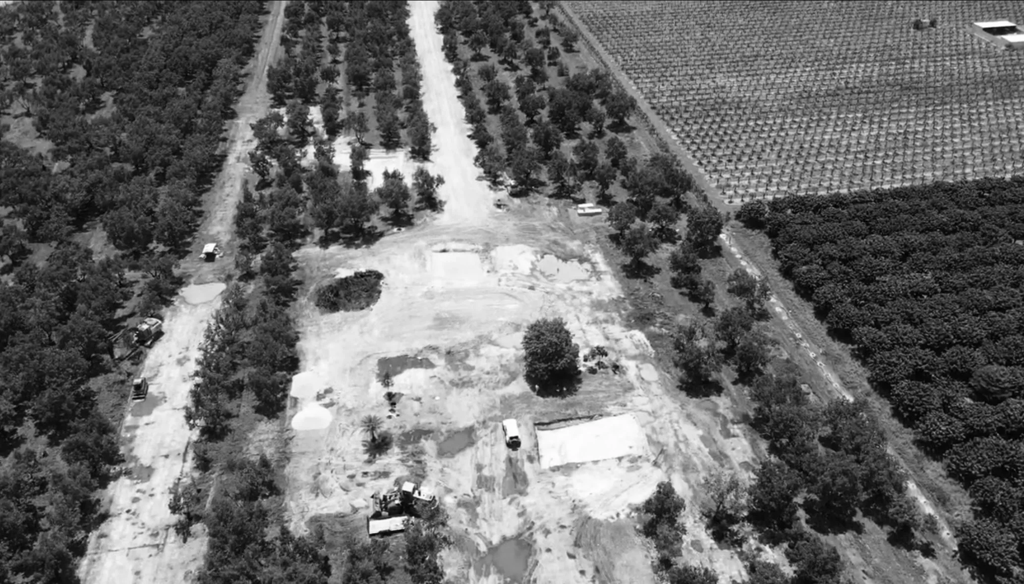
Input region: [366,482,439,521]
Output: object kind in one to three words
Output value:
work vehicle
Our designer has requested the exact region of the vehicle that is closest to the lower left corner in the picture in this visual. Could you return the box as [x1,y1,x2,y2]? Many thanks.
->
[130,379,150,407]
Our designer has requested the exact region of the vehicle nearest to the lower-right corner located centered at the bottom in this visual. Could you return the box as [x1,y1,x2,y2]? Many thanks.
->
[502,420,525,451]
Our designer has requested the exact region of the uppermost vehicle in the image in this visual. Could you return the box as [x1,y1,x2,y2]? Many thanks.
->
[110,320,171,361]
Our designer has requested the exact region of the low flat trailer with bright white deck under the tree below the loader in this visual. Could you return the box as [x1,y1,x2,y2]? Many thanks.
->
[368,516,416,538]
